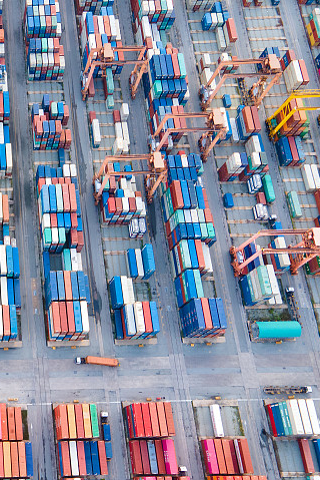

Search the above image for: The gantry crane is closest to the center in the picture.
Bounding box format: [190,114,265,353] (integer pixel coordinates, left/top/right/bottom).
[93,153,170,205]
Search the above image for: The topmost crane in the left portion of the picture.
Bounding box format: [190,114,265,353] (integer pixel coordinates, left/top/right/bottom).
[81,45,148,102]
